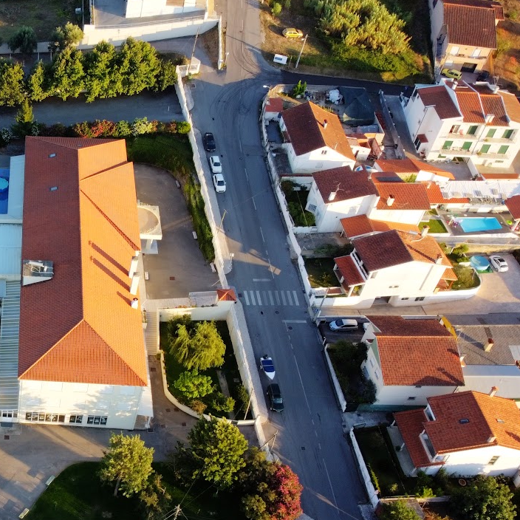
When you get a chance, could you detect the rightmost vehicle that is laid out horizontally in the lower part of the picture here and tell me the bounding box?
[329,318,360,331]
